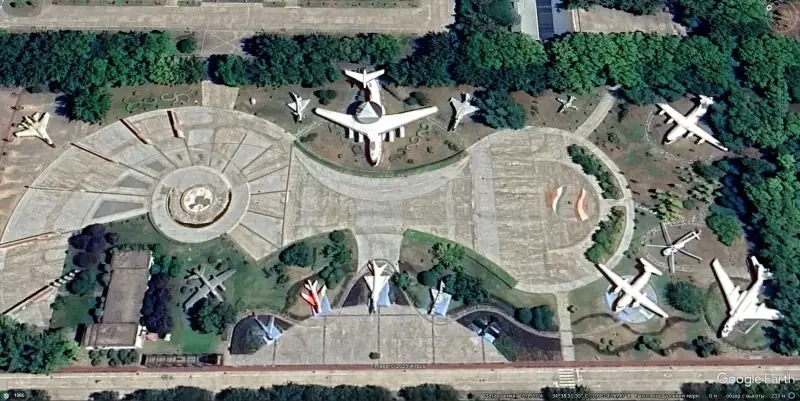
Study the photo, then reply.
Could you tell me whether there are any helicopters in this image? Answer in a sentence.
Yes, there is a helicopter in the image.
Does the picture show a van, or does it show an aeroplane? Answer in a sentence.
The one in the frame is an aeroplane.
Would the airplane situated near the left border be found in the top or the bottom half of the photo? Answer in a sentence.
The top half of the photo is where the airplane situated near the left border is.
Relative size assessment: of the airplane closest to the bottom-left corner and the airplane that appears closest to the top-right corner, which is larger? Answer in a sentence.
The airplane that appears closest to the top-right corner covers a greater area than the airplane closest to the bottom-left corner.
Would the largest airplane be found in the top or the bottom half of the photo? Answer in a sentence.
The top half of the photo is where the largest airplane is.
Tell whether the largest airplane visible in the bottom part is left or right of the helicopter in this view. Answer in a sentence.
The largest airplane visible in the bottom part is to the right of the helicopter.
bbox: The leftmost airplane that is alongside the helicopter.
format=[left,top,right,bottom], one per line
[598,257,664,320]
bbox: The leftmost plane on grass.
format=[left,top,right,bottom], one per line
[188,266,236,311]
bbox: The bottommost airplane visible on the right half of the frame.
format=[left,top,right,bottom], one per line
[477,316,499,340]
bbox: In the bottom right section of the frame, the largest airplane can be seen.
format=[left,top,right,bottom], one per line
[712,256,786,337]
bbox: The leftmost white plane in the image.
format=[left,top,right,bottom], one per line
[16,109,56,149]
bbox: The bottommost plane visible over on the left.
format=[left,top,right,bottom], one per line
[252,312,274,338]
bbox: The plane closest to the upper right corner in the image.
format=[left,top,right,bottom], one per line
[652,89,720,152]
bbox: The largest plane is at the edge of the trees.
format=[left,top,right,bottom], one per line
[310,68,433,166]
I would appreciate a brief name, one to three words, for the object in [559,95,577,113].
airplane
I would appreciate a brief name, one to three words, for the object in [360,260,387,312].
airplane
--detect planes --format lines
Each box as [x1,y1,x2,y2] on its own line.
[712,256,786,337]
[652,89,720,152]
[301,281,325,313]
[598,257,664,320]
[16,109,56,149]
[559,95,577,113]
[252,312,274,338]
[310,68,433,166]
[360,260,387,312]
[477,316,499,340]
[430,280,450,314]
[450,95,478,135]
[188,266,236,311]
[285,92,309,124]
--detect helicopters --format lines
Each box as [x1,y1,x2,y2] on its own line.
[645,222,700,274]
